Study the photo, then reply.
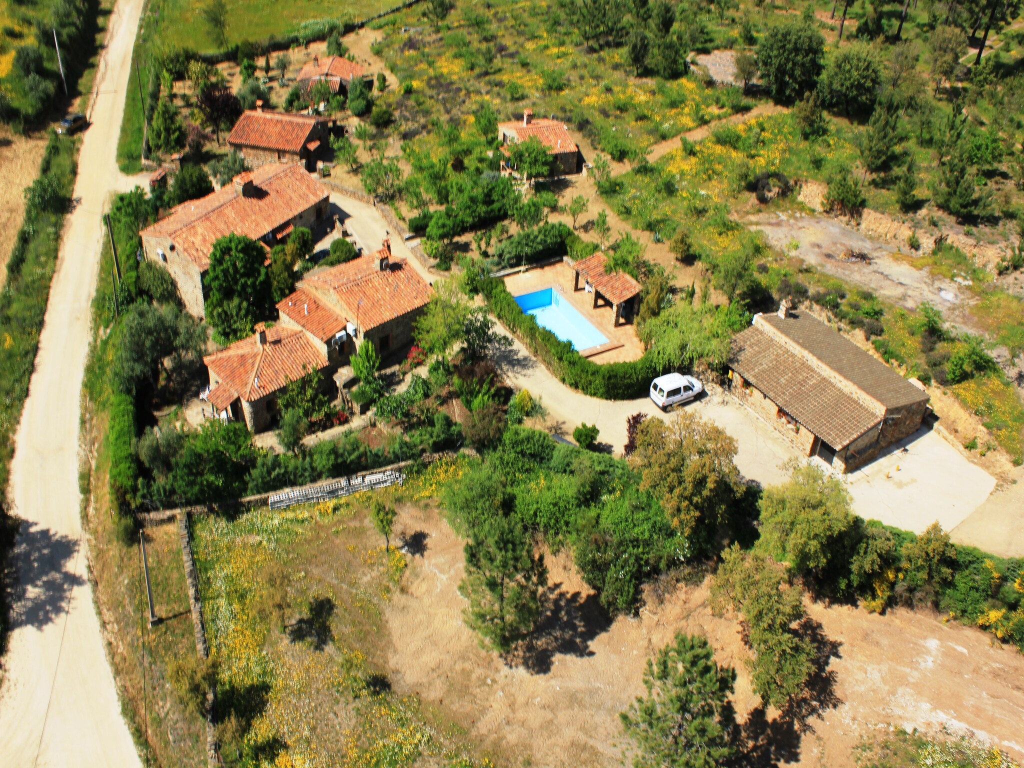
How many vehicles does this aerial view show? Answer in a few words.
2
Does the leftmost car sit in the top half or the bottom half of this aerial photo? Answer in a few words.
top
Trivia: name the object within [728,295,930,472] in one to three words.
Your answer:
barn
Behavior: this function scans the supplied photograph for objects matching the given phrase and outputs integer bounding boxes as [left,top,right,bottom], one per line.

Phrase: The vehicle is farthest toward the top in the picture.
[52,109,90,135]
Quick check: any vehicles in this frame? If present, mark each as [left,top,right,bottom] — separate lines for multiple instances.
[52,109,90,135]
[647,376,706,413]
